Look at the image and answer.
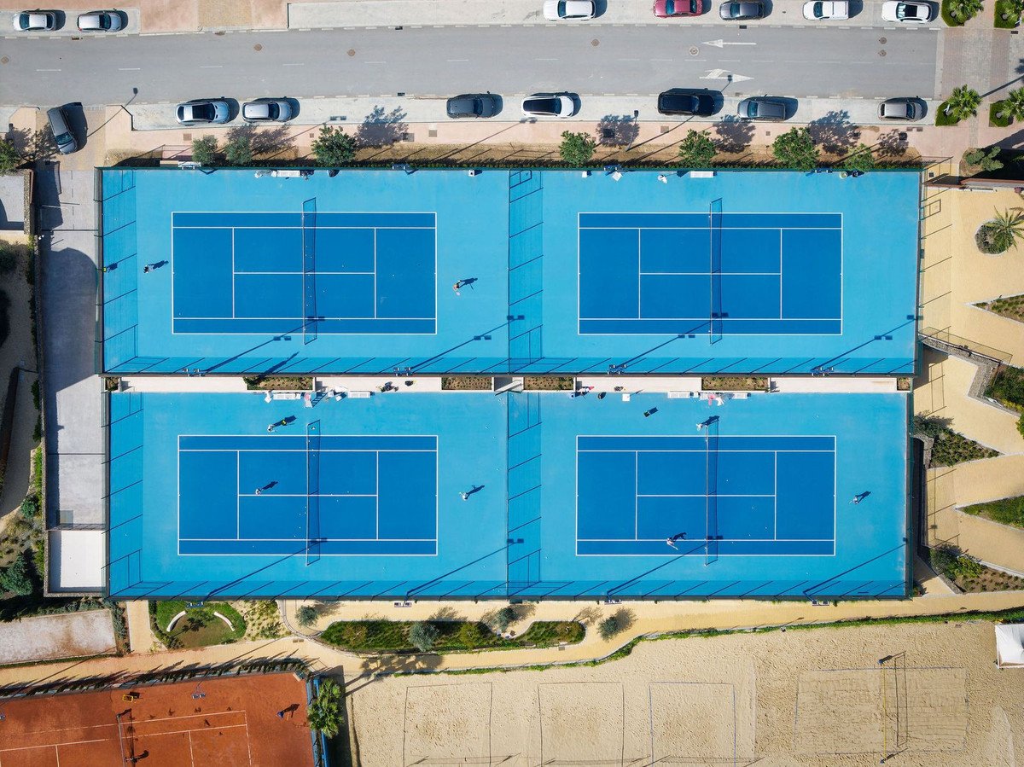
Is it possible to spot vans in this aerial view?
Yes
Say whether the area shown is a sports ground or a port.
sports ground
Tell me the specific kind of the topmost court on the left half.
tennis court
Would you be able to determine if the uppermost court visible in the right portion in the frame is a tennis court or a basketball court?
tennis court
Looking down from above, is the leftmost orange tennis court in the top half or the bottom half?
bottom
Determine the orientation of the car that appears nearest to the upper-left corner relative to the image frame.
horizontally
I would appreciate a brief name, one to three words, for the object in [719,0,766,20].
car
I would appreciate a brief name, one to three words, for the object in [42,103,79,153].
van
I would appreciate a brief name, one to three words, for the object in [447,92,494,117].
car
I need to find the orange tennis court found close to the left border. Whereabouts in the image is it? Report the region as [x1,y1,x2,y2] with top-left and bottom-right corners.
[0,672,312,767]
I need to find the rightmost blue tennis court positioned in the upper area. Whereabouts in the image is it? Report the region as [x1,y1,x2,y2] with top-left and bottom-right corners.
[510,169,919,374]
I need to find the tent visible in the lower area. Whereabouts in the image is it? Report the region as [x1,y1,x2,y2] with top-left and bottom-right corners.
[997,624,1024,672]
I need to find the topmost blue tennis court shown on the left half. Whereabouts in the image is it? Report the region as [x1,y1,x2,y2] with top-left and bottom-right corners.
[102,169,509,374]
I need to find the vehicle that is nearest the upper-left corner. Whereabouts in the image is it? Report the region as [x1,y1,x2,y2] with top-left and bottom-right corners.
[11,9,53,31]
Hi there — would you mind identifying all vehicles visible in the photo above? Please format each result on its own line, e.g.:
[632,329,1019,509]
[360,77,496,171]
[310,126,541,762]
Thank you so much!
[881,97,922,120]
[11,9,53,31]
[659,89,714,115]
[42,103,79,153]
[804,0,851,19]
[719,0,766,20]
[75,8,120,31]
[545,0,595,19]
[447,92,494,117]
[738,96,788,119]
[243,98,288,121]
[654,0,702,17]
[176,100,228,123]
[522,93,573,117]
